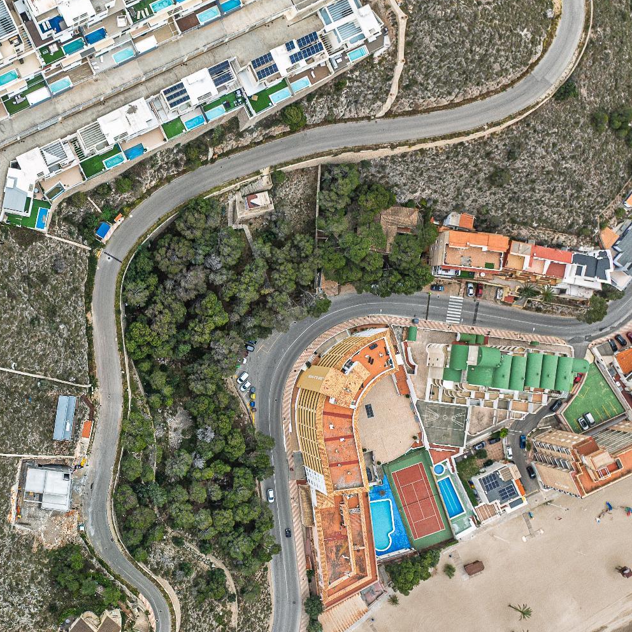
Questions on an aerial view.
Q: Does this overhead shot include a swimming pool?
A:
Yes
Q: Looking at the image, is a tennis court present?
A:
Yes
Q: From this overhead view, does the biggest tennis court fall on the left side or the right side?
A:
right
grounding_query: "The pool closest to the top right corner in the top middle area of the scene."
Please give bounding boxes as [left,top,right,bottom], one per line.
[346,45,368,61]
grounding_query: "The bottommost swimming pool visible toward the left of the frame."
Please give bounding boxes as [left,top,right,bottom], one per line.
[35,208,49,231]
